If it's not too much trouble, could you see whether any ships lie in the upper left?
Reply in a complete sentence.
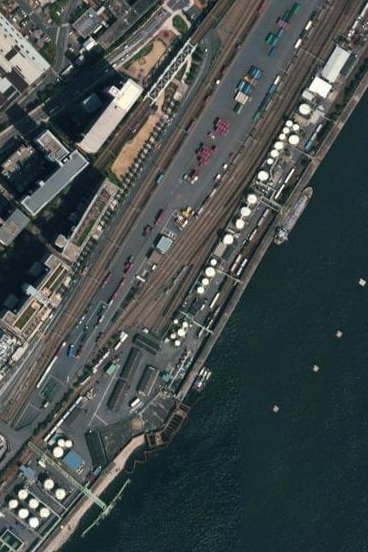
No, no ship can be made out in the upper left.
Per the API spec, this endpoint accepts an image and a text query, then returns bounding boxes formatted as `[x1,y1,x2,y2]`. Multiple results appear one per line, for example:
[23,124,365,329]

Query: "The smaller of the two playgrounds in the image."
[131,41,175,77]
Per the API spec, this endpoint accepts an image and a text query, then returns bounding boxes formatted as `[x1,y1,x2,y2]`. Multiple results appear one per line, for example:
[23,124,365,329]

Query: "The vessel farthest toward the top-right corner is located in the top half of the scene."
[275,189,312,245]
